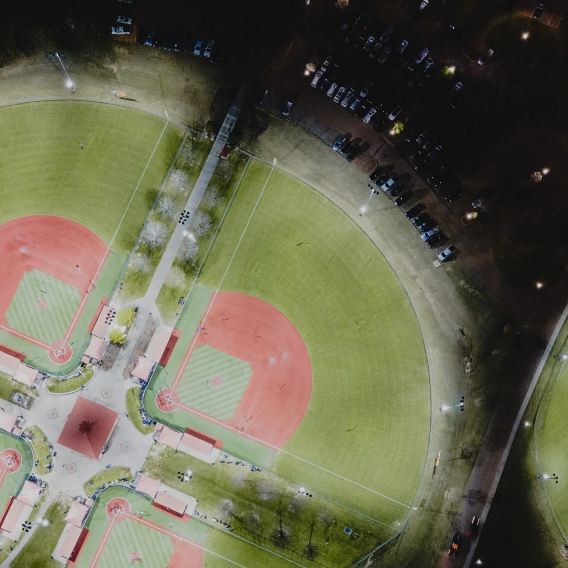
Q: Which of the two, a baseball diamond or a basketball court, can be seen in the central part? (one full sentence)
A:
It is a baseball diamond that can be seen in the central part.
